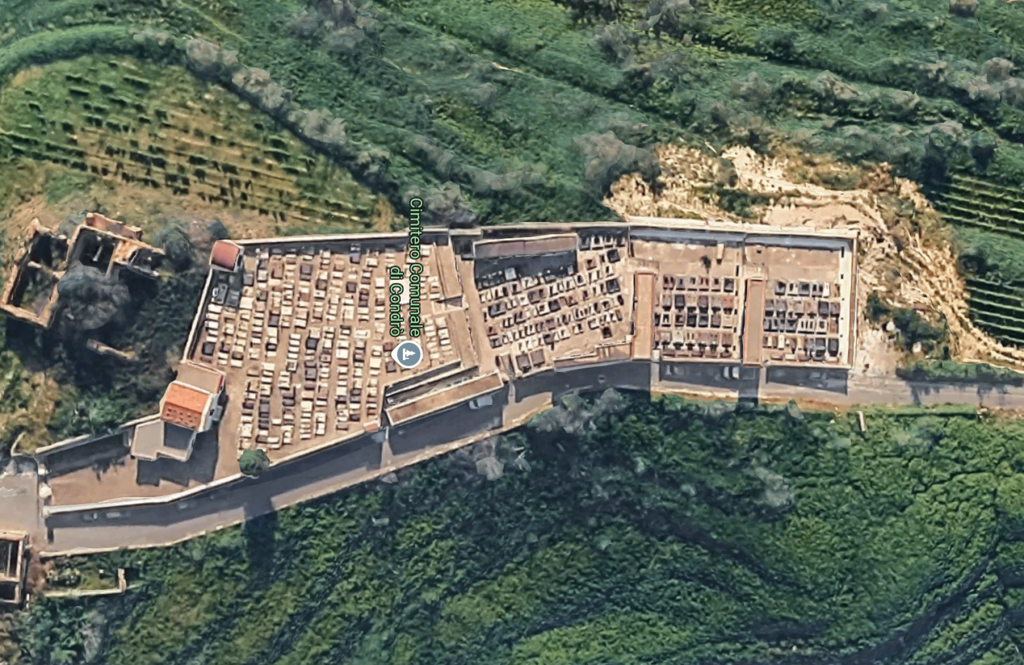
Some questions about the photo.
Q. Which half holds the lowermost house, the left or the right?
left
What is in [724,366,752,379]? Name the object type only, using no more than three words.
vehicle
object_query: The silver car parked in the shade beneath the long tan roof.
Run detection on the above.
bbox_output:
[469,394,497,410]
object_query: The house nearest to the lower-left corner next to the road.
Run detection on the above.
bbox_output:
[0,528,36,607]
